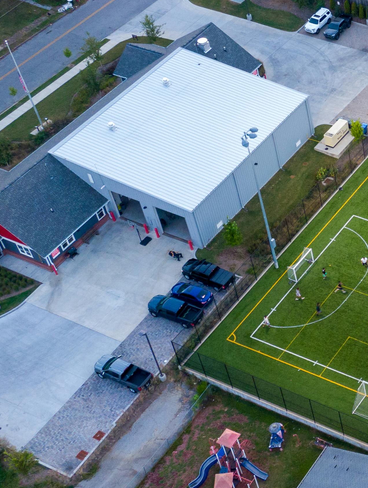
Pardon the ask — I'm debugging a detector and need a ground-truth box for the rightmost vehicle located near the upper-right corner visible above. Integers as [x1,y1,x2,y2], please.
[325,12,350,38]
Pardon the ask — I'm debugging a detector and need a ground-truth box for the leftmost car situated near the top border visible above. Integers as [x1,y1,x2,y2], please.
[308,8,331,31]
